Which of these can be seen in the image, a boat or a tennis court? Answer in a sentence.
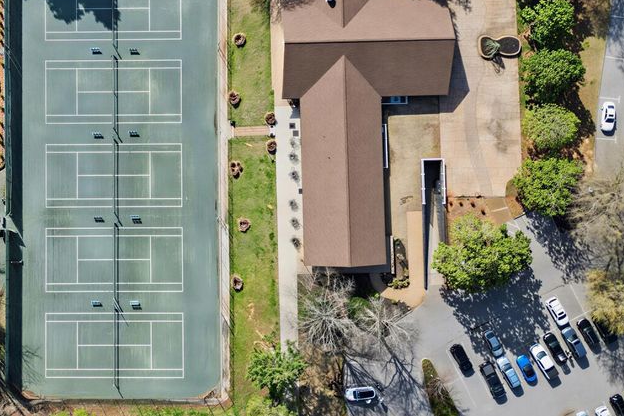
Looking from above, you can make out a tennis court.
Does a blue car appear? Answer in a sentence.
Yes, there's a blue car down there.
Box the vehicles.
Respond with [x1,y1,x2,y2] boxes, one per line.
[543,332,567,361]
[478,361,504,396]
[482,328,504,356]
[560,325,587,360]
[346,387,375,401]
[592,318,614,347]
[530,343,556,378]
[450,342,472,372]
[576,320,600,349]
[545,297,567,326]
[607,391,624,416]
[599,103,615,132]
[515,354,537,381]
[497,357,520,386]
